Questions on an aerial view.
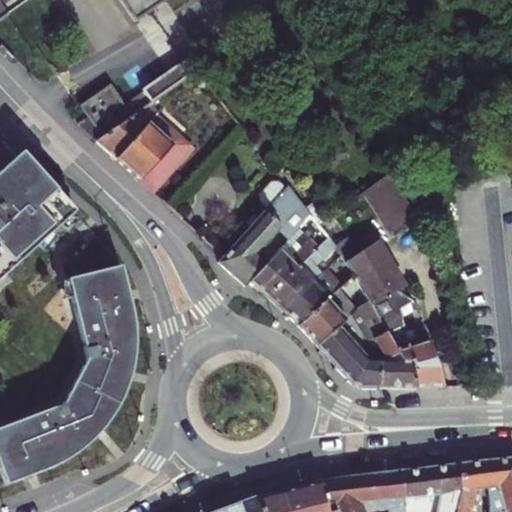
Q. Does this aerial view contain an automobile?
Yes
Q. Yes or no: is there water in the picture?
No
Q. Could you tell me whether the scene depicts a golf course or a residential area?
residential area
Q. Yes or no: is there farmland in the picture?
No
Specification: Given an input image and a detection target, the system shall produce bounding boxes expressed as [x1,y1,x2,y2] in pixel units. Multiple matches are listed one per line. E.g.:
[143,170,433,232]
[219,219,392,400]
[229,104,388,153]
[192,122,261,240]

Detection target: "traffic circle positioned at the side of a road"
[162,324,316,478]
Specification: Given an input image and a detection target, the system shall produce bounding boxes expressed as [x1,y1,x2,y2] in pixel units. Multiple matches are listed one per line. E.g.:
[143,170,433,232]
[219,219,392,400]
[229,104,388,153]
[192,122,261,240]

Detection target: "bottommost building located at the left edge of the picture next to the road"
[0,264,140,484]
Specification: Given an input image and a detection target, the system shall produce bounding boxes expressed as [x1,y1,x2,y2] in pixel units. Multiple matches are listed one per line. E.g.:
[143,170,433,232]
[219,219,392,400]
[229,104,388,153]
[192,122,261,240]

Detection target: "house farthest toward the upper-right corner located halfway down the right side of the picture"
[362,176,409,234]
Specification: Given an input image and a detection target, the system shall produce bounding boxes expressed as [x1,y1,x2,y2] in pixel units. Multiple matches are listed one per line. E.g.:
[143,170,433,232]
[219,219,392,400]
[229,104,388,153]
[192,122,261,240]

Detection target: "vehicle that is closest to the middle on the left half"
[146,219,164,240]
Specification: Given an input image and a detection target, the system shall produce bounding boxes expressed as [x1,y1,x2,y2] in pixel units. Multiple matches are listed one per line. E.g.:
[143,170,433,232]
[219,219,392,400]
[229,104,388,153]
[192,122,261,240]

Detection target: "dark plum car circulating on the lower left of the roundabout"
[178,418,197,440]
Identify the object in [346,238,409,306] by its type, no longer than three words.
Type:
barn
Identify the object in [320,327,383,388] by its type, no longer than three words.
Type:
house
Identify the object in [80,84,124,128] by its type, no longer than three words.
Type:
building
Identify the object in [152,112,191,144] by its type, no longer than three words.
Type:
shed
